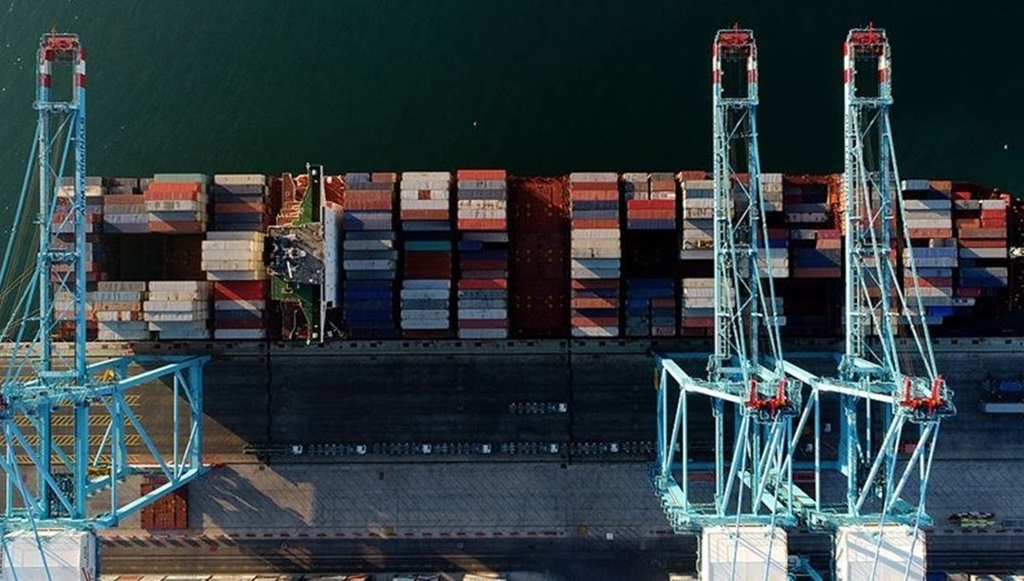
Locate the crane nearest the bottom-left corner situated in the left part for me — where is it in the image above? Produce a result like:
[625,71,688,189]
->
[0,22,223,581]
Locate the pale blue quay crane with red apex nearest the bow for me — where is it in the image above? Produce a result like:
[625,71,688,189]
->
[742,17,953,581]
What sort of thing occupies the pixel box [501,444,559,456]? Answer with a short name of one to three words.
vehicle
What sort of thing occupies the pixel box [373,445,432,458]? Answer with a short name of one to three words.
vehicle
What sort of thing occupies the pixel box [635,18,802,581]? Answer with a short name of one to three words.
container crane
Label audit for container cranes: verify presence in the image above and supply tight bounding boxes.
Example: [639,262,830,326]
[0,22,223,581]
[742,17,953,581]
[635,18,802,581]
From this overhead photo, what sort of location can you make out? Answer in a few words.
port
